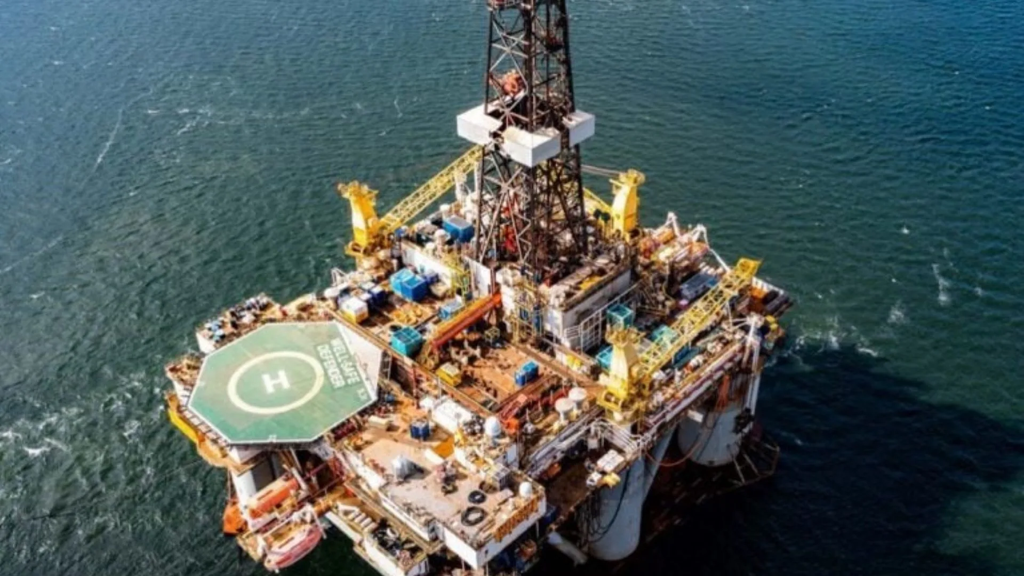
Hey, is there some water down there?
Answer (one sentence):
Yes, there is water in the image.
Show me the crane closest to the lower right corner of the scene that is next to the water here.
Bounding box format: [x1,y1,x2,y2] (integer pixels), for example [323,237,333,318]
[591,265,759,439]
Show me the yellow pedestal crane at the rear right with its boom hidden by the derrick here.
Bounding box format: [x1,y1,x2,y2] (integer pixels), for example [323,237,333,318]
[535,151,648,239]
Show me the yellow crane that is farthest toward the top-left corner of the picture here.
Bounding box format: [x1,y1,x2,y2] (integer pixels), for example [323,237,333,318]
[338,148,493,266]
